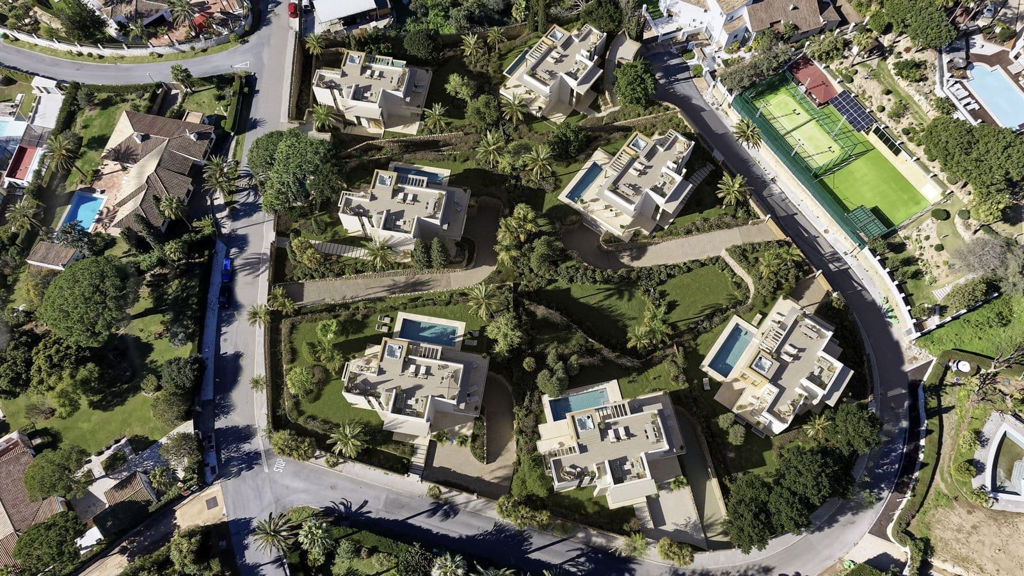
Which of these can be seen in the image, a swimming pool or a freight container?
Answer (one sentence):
The one in the frame is a swimming pool.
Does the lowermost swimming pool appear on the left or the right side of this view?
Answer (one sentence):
The lowermost swimming pool is on the right side of the image.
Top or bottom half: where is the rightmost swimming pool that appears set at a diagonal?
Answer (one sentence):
You can find the rightmost swimming pool that appears set at a diagonal in the top half.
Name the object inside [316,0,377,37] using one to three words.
shed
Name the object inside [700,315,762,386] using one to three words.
swimming pool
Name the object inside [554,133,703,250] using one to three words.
house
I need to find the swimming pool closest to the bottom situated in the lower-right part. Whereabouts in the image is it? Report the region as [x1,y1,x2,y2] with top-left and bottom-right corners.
[983,426,1024,505]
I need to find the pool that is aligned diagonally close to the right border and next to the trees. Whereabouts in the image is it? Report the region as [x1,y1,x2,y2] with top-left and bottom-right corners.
[963,60,1024,131]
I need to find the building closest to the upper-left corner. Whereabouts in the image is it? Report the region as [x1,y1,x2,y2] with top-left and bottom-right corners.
[31,76,64,103]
